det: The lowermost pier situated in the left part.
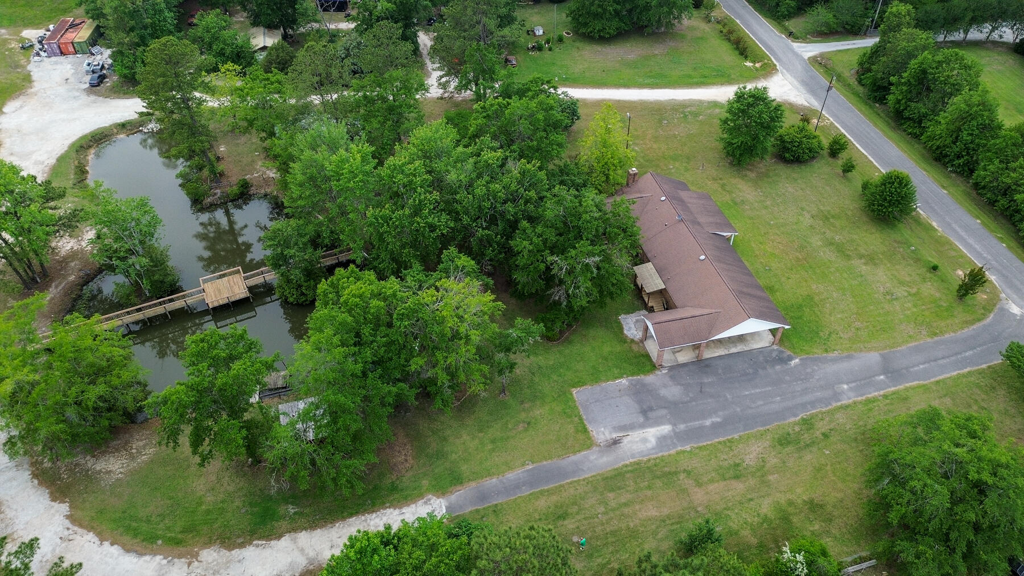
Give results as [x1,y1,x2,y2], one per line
[258,348,294,399]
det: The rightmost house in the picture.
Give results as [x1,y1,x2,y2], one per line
[601,171,792,368]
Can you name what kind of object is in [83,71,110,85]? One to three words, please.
car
